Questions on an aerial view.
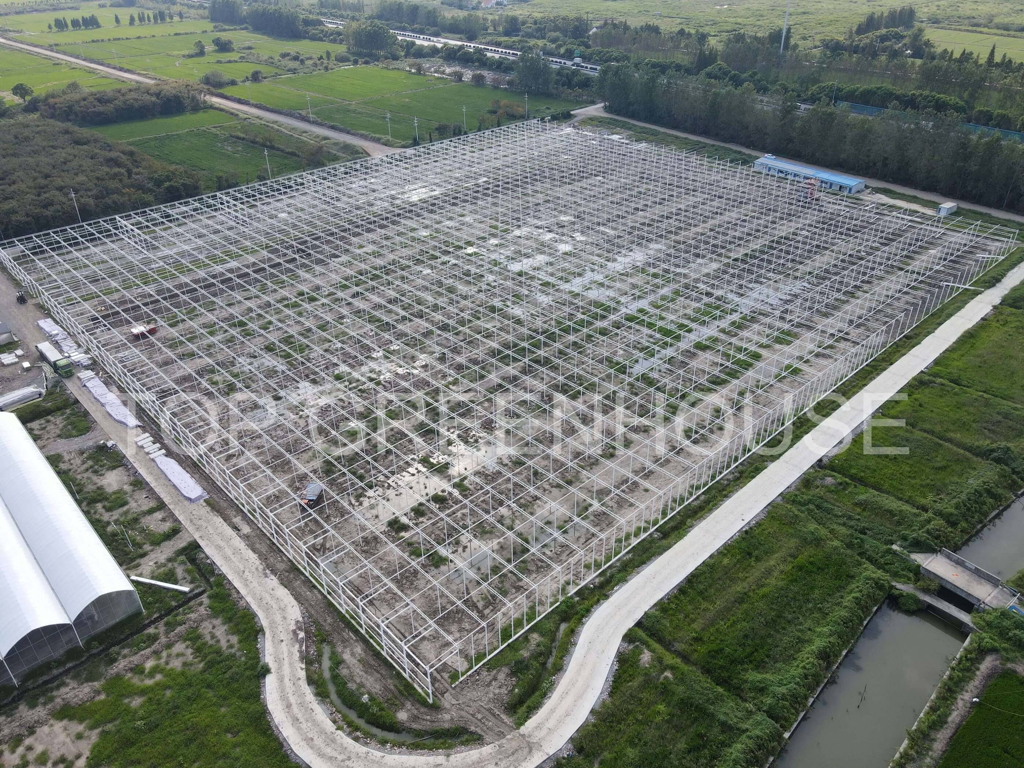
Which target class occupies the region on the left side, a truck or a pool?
truck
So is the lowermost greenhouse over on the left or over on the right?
left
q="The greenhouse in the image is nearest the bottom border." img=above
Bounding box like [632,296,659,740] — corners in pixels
[0,408,145,687]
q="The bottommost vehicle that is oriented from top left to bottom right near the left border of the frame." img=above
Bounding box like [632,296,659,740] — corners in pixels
[40,341,73,380]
